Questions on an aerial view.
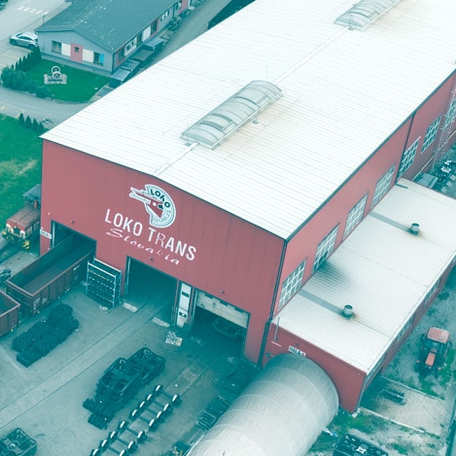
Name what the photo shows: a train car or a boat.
train car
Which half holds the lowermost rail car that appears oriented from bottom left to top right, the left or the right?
left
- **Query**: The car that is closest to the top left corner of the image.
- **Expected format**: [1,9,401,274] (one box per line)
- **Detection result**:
[11,33,40,49]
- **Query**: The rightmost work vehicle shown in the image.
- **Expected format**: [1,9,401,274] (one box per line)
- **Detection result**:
[412,327,455,365]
